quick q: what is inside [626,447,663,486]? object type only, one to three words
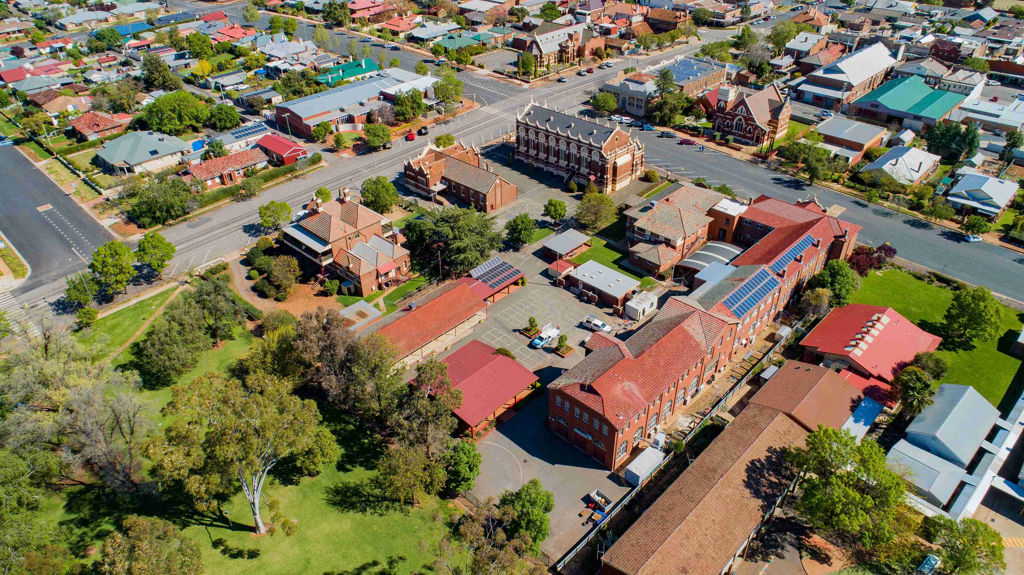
shipping container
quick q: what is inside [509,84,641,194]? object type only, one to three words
building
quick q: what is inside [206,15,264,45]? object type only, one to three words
house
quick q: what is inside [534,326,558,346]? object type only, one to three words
vehicle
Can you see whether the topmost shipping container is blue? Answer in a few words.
No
